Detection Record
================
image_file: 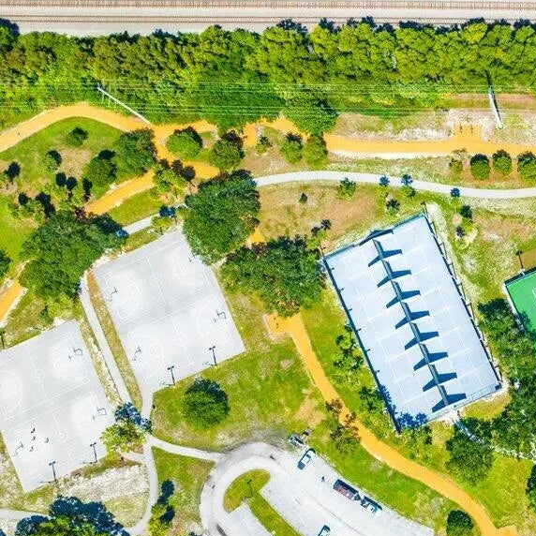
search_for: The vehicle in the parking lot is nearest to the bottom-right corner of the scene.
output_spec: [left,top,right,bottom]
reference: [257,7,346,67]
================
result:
[362,496,383,514]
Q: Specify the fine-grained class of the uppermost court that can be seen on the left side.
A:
basketball court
